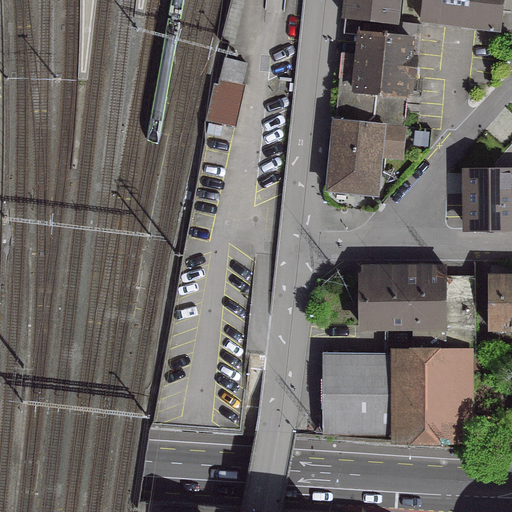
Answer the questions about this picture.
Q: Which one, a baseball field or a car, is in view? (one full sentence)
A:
It is a car that can be seen here.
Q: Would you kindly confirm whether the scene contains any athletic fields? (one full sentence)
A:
No, no athletic field is visible in the view.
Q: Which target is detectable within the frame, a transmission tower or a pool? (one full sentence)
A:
Looking from above, you can make out a transmission tower.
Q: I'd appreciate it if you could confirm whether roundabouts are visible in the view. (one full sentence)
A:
No, I can't see a single roundabout in this photo.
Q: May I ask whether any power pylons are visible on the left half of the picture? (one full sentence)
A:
No, I can find no power pylon on the left half of the picture.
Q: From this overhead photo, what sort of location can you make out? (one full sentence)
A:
The area seen from above is a residential area.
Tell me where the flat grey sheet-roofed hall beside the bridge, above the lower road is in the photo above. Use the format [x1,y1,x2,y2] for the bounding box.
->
[321,352,390,438]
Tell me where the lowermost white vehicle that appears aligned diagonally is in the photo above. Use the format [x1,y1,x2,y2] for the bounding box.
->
[217,361,240,382]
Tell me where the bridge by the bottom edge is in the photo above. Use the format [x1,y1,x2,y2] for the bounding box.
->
[242,430,298,512]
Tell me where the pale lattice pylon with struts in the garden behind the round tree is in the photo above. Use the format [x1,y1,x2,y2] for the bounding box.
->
[321,269,354,304]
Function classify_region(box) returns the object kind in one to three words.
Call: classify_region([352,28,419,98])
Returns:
house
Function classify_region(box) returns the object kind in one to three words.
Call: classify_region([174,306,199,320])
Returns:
vehicle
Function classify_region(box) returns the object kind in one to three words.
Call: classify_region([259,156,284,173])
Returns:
car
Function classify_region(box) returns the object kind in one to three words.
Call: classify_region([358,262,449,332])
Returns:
house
